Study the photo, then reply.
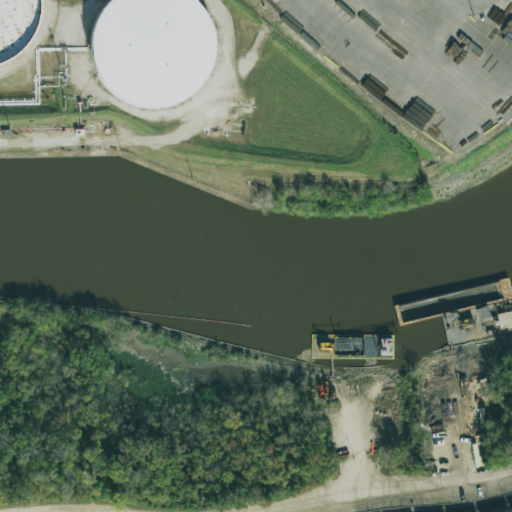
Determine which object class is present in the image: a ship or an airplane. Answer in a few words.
ship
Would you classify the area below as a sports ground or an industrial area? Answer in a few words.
industrial area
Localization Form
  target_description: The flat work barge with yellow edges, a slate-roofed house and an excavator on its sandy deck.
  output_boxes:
[312,334,395,360]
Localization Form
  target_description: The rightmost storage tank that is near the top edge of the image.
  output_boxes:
[92,0,220,112]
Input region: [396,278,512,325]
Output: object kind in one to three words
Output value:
ship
